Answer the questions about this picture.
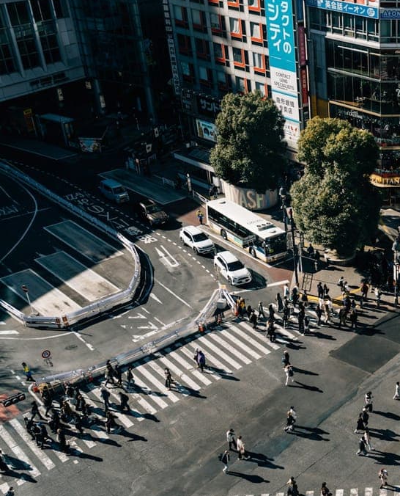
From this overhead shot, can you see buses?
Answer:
Yes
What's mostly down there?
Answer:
paved ground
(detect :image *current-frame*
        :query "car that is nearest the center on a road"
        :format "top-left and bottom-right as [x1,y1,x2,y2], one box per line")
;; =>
[179,224,213,253]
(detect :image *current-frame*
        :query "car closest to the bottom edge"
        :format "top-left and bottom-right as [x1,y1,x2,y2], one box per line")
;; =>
[216,249,250,282]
